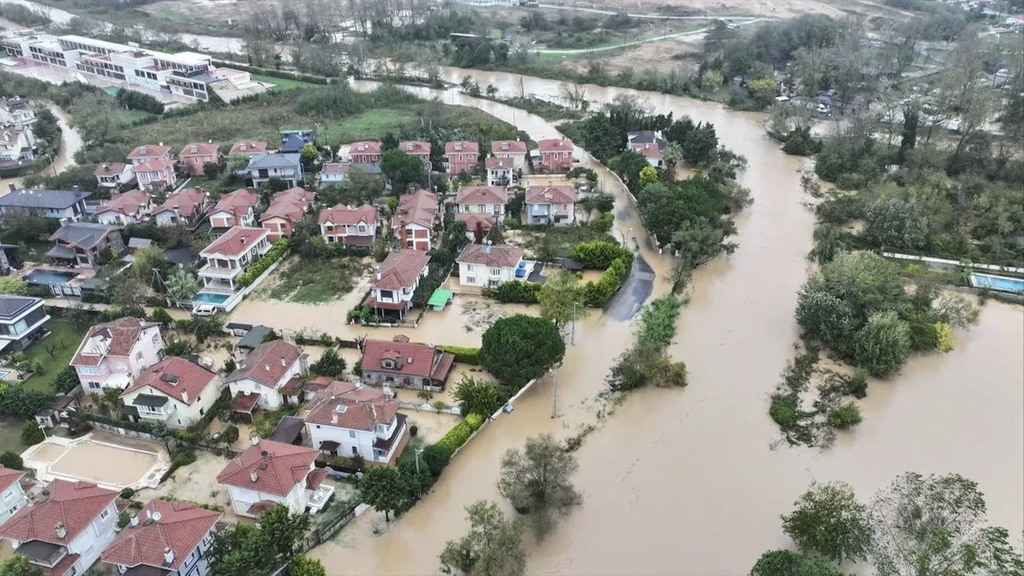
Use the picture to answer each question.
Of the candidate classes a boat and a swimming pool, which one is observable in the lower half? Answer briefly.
swimming pool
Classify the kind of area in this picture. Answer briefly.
residential area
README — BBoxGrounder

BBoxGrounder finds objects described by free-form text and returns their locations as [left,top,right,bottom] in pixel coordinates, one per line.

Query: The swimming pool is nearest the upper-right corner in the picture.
[972,274,1024,296]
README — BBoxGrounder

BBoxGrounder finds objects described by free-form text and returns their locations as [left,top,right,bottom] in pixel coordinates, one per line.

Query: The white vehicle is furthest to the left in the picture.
[190,302,217,314]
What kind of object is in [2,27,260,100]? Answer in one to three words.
building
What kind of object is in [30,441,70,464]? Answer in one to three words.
swimming pool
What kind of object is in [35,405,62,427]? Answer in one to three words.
shed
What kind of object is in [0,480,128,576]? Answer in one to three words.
house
